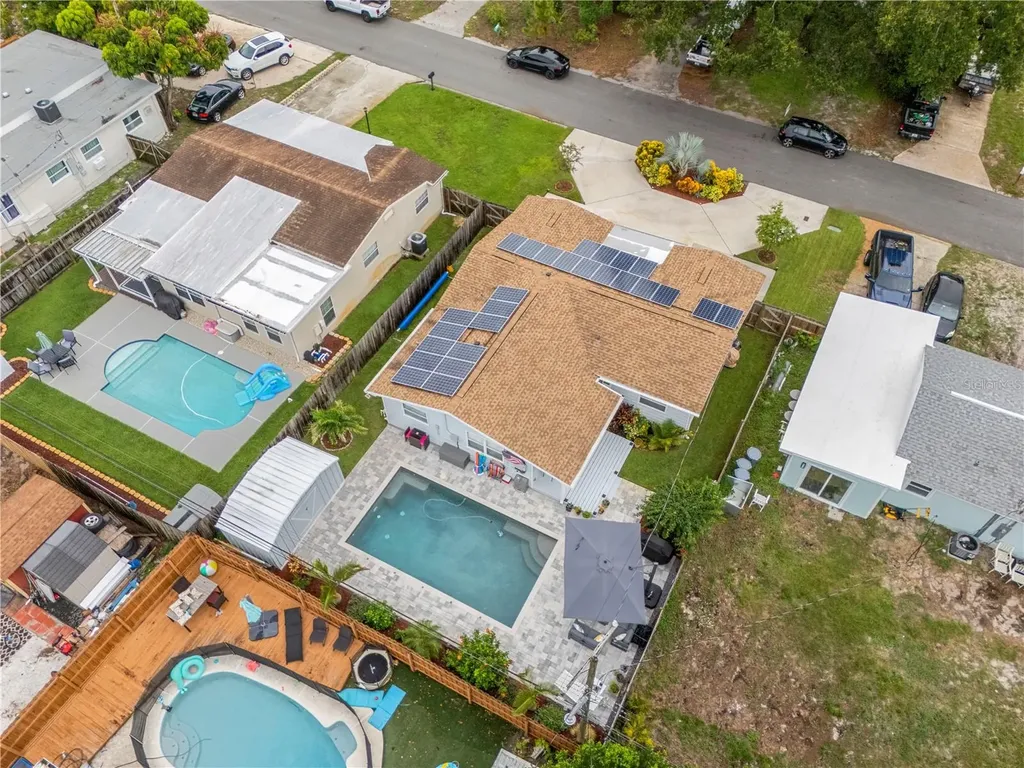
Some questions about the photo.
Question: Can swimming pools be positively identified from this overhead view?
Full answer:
Yes, a swimming pool appears in the view.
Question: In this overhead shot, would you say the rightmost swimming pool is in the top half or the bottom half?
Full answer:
Seen from above, the rightmost swimming pool lies in the bottom half of the view.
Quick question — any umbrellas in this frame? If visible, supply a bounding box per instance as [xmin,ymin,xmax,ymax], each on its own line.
[26,318,50,351]
[565,518,664,626]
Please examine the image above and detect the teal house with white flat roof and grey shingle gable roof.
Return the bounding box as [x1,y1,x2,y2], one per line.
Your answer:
[776,289,1024,555]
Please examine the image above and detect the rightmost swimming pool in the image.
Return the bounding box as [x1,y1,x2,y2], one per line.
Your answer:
[335,459,565,638]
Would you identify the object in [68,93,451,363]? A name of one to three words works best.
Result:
house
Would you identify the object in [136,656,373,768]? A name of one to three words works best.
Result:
swimming pool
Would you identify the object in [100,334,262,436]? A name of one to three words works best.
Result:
swimming pool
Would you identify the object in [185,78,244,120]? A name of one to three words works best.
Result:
car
